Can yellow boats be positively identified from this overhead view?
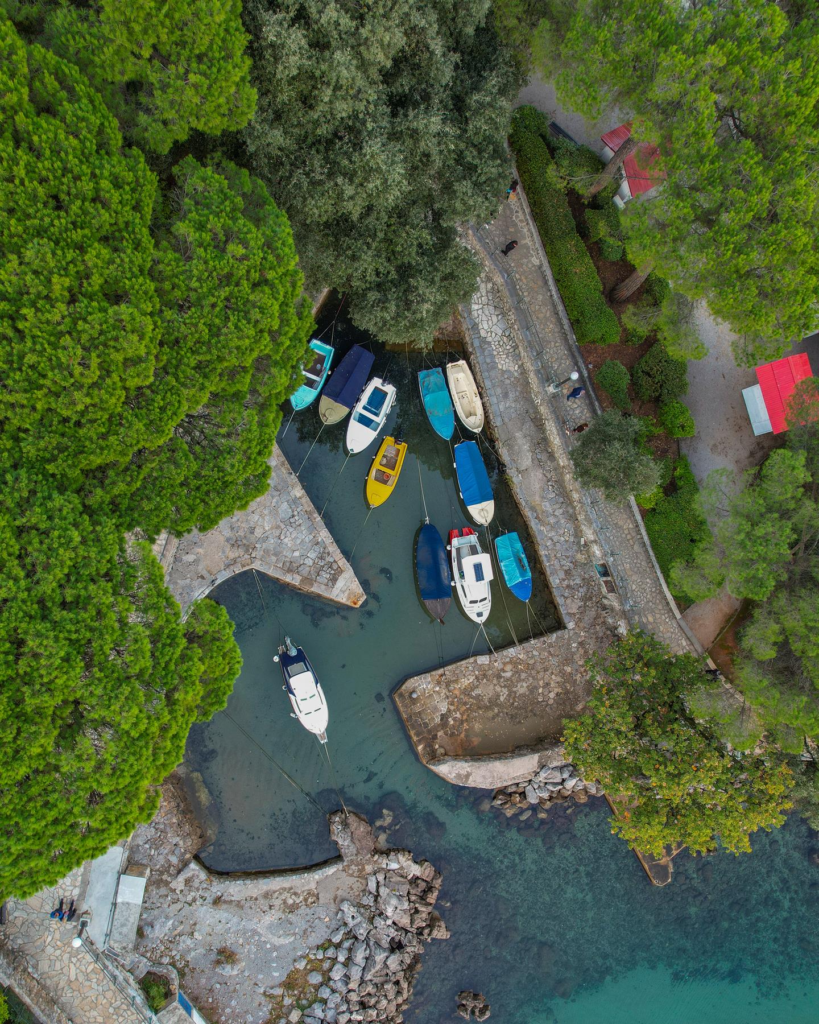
Yes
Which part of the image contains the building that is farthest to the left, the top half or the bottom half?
bottom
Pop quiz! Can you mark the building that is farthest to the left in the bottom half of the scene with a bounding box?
[112,856,151,951]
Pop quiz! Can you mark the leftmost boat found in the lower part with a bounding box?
[270,632,331,747]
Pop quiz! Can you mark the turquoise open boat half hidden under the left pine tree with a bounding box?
[290,338,333,410]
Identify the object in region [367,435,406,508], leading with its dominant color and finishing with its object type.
yellow boat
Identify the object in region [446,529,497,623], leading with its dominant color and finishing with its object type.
white boat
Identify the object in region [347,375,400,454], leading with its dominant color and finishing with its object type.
white boat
